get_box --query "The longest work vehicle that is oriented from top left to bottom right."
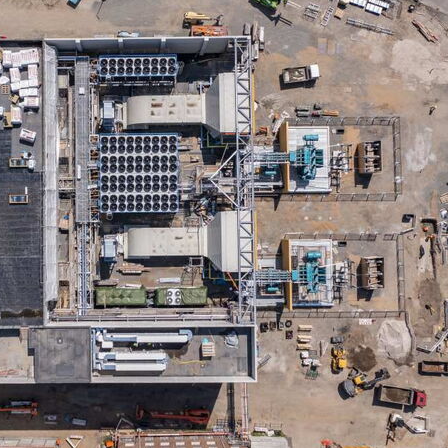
[385,408,421,435]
